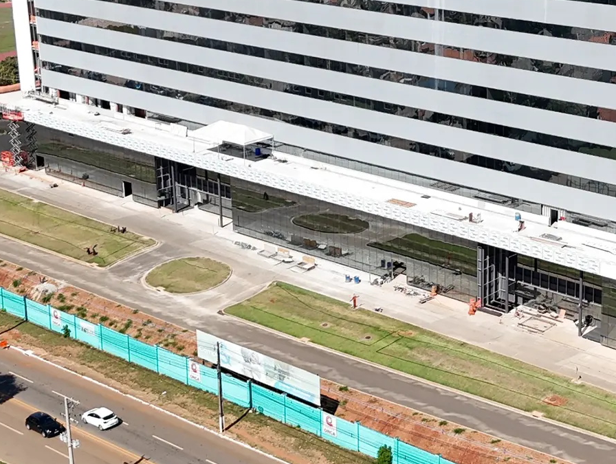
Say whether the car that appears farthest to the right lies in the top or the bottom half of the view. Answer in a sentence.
You can find the car that appears farthest to the right in the bottom half.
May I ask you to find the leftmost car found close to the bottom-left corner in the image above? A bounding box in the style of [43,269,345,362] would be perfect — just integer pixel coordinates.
[26,407,66,437]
